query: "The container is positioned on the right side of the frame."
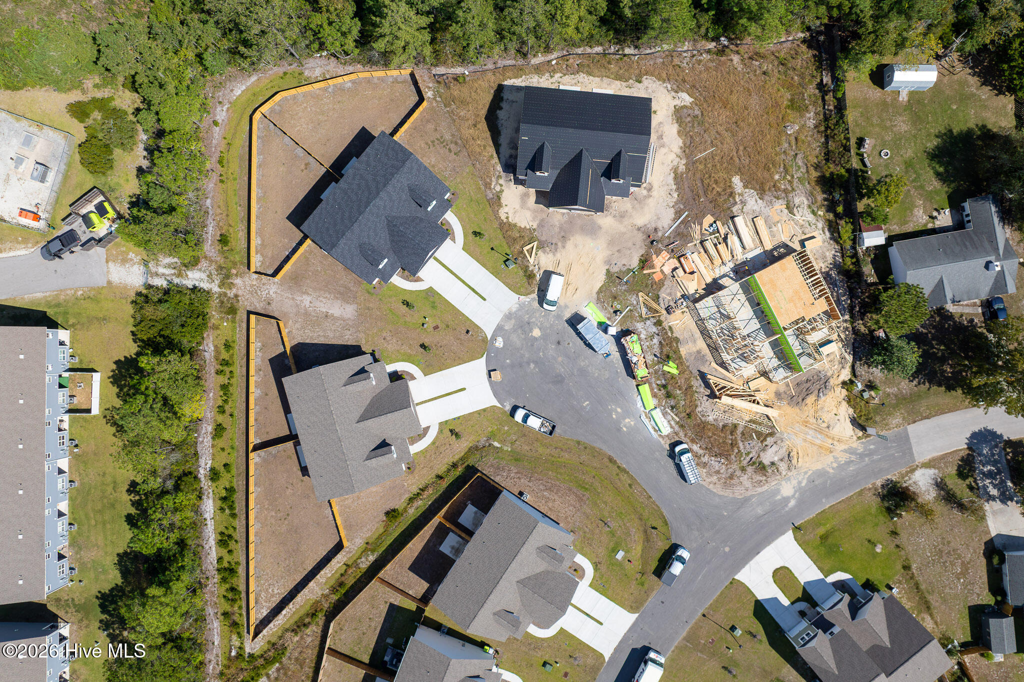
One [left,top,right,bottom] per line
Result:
[620,334,652,381]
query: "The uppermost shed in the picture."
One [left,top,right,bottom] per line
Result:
[886,60,947,99]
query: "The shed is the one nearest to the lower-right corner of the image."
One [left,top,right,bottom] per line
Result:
[983,618,1018,661]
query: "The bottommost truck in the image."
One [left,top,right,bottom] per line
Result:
[634,649,664,682]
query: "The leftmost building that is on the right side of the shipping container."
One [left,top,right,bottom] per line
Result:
[692,247,842,384]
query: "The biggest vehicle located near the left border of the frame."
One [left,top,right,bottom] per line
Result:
[43,230,84,260]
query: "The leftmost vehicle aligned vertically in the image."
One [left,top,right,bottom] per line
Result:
[542,270,565,313]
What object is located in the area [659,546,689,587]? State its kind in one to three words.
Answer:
truck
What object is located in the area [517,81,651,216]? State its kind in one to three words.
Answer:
house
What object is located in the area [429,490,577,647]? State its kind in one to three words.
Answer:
house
